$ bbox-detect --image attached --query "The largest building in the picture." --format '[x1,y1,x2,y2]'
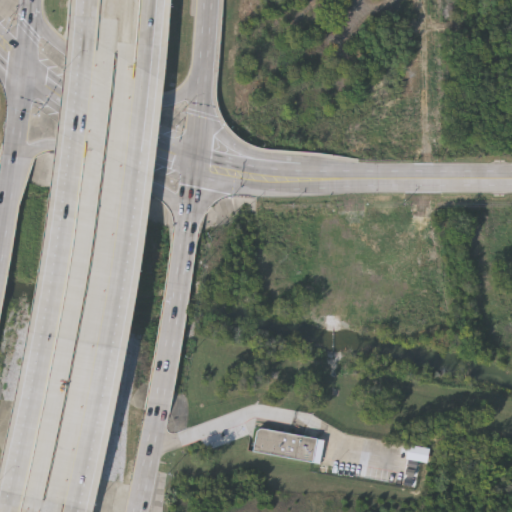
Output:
[253,428,324,464]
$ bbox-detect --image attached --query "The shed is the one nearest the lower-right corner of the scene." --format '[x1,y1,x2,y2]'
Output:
[406,445,430,464]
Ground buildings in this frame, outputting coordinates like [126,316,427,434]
[406,445,430,464]
[253,428,324,464]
